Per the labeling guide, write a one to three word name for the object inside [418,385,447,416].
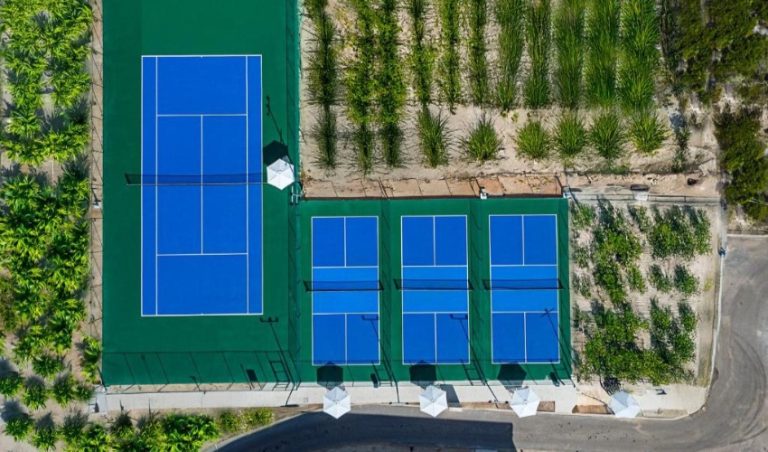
umbrella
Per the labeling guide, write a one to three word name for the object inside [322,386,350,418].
umbrella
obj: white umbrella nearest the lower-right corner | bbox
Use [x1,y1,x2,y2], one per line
[607,388,638,418]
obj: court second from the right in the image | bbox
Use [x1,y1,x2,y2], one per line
[391,199,483,382]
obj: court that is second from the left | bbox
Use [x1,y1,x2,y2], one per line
[301,199,392,382]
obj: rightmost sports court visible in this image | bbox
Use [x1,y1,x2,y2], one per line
[480,199,572,382]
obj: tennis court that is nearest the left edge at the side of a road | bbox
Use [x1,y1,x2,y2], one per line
[103,0,300,385]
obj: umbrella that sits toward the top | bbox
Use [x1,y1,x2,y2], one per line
[267,157,295,189]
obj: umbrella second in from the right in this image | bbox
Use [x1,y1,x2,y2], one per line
[508,387,539,417]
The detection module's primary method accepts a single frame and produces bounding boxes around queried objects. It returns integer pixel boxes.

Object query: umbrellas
[418,385,447,416]
[607,388,638,418]
[322,386,350,418]
[508,387,539,417]
[267,157,295,189]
